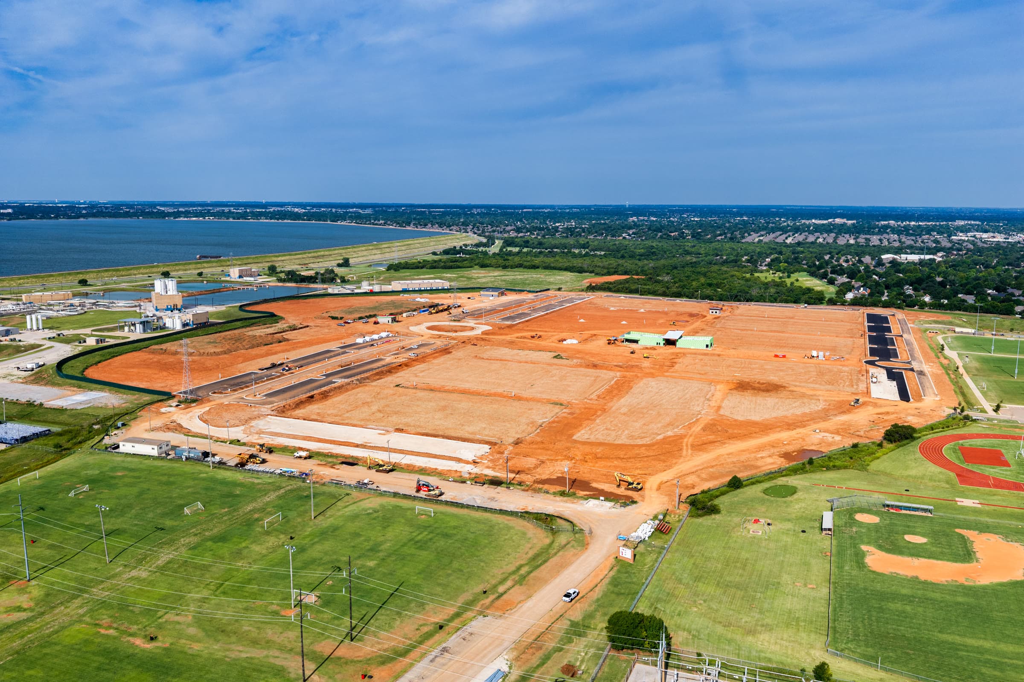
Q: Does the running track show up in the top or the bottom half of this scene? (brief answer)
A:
bottom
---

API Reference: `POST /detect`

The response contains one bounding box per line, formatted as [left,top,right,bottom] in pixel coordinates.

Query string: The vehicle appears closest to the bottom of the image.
[561,590,579,603]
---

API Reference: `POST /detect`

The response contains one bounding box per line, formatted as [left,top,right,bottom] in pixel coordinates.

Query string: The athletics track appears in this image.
[914,432,1024,495]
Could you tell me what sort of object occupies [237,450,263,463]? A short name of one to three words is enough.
vehicle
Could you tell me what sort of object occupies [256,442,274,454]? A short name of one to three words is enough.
vehicle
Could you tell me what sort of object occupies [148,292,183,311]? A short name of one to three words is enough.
house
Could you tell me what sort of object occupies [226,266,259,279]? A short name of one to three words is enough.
building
